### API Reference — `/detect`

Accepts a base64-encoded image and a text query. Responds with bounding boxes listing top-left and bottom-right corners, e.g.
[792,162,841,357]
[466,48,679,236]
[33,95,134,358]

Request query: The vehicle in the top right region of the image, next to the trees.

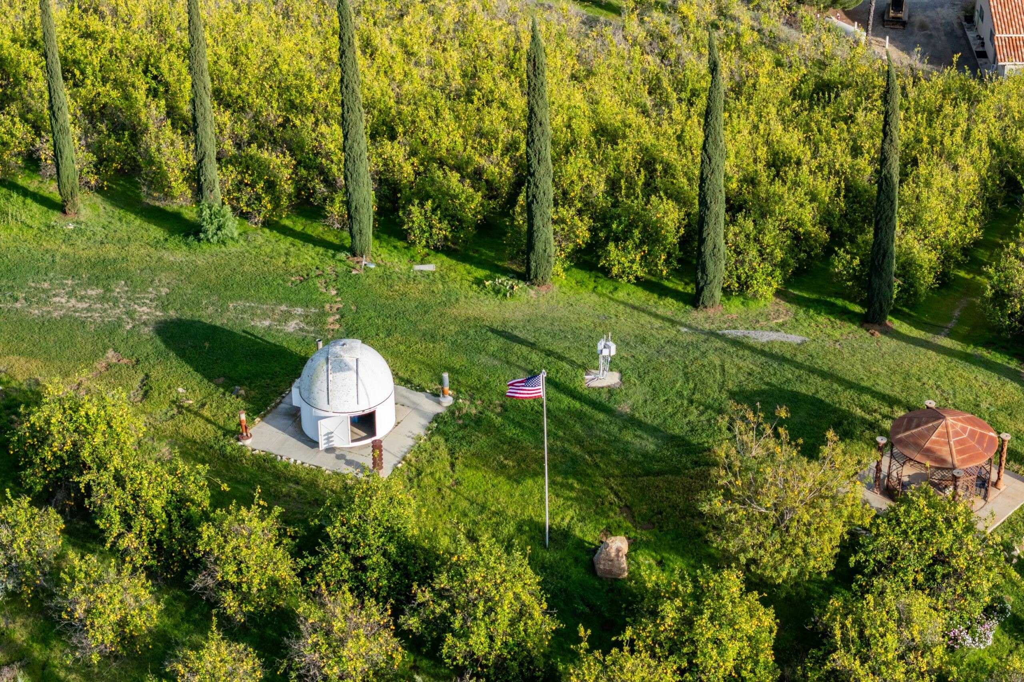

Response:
[884,0,907,29]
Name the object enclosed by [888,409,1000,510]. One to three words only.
gazebo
